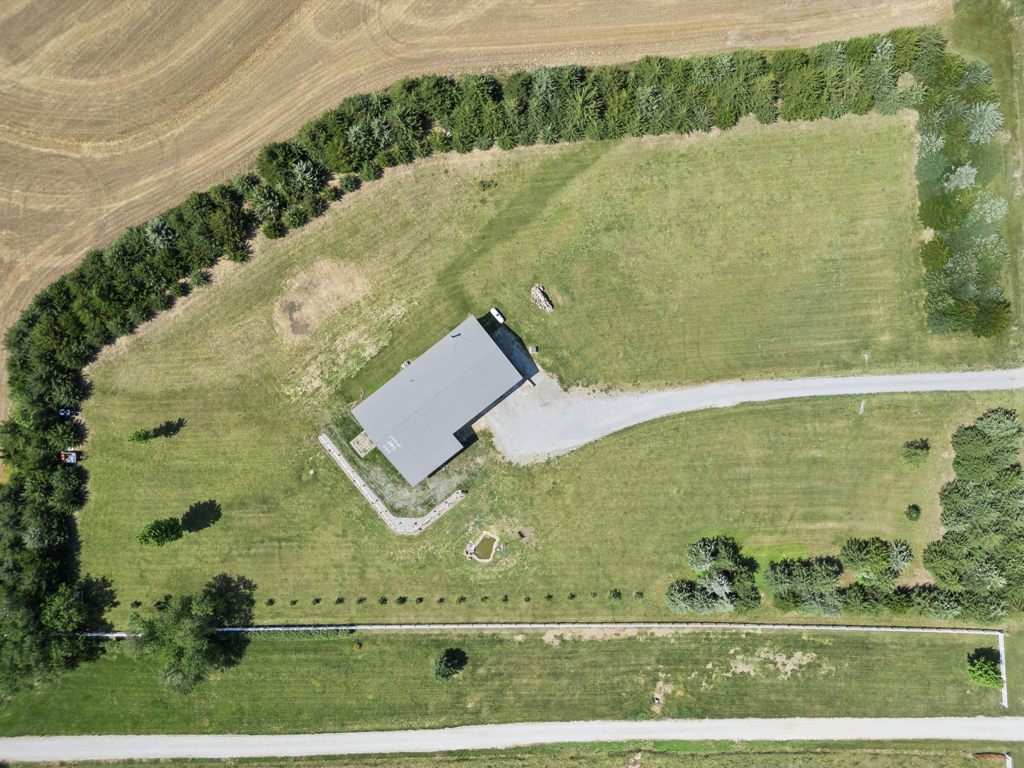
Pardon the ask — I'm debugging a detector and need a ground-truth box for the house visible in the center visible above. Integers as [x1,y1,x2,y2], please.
[351,313,522,487]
